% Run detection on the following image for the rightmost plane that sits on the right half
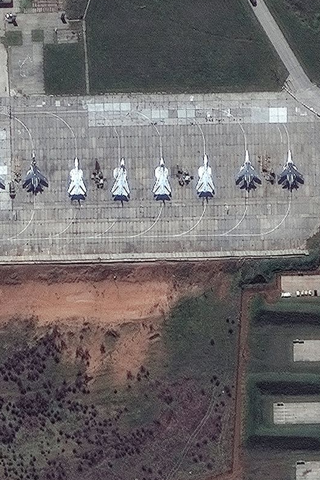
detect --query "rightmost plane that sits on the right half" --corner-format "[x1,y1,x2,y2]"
[276,150,304,192]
